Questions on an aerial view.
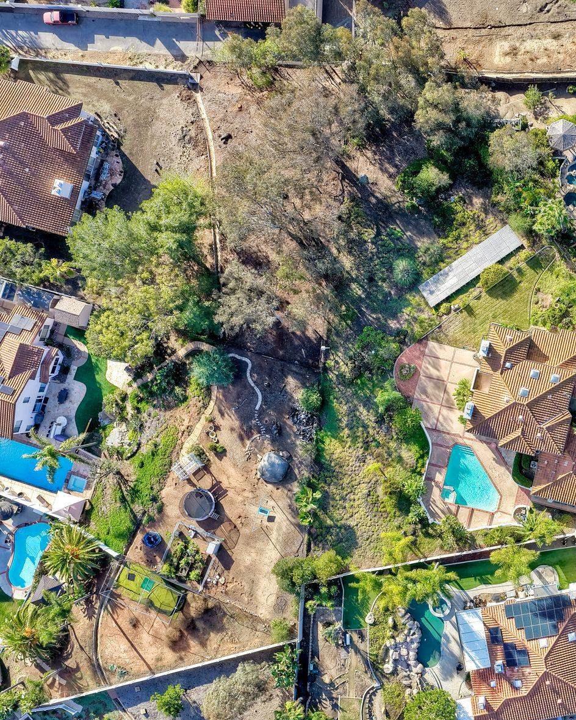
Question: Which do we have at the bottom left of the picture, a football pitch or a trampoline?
trampoline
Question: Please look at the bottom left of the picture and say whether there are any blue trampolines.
Yes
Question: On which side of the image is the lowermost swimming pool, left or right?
right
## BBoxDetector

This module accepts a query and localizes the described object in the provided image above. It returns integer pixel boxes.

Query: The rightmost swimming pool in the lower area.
[438,442,503,515]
